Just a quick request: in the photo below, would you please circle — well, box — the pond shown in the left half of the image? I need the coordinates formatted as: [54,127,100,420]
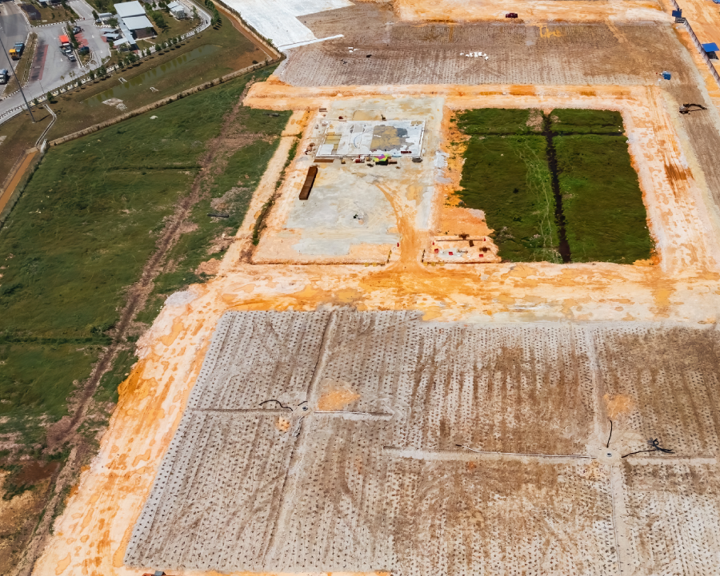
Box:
[81,44,223,109]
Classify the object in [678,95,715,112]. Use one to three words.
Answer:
work vehicle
